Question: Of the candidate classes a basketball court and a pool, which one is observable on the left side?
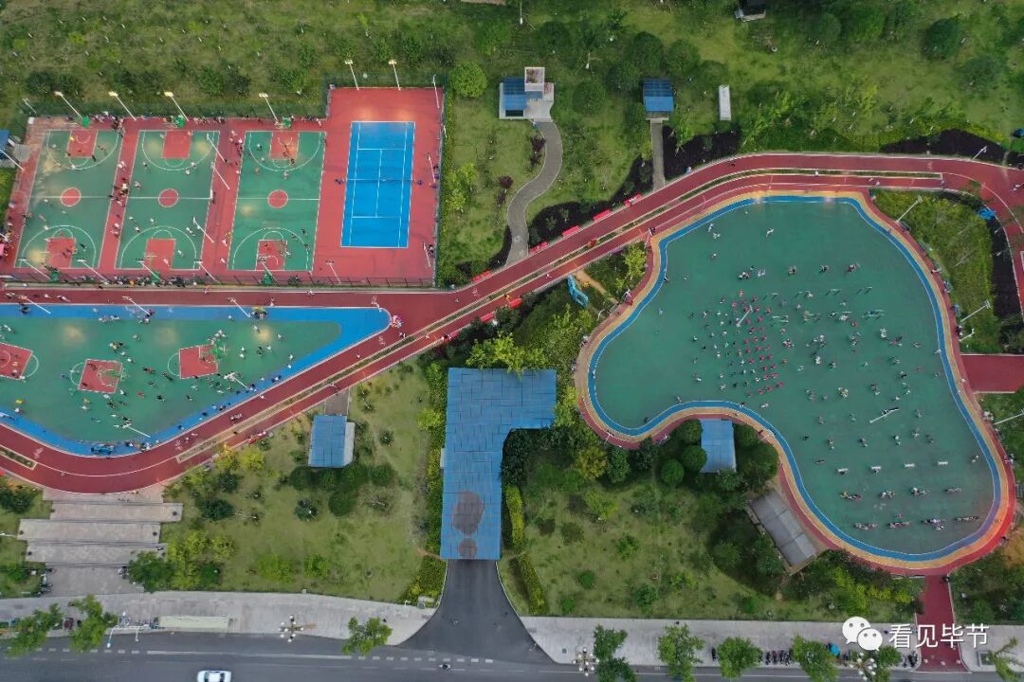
basketball court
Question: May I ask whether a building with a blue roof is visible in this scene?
Yes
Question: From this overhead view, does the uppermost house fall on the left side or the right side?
right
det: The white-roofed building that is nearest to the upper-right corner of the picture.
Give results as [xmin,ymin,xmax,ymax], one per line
[715,86,731,128]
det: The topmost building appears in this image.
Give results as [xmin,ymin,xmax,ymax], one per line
[736,0,765,29]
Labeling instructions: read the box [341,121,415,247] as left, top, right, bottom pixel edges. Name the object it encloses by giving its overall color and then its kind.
blue tennis court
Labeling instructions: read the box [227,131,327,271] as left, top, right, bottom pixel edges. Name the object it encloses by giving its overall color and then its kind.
green basketball court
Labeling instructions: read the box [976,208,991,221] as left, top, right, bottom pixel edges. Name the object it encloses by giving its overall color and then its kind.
blue umbrella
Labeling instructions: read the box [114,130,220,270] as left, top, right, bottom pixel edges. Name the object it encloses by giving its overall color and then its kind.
green basketball court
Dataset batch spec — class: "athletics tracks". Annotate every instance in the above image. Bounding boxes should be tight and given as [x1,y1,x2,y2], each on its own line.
[0,152,1024,495]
